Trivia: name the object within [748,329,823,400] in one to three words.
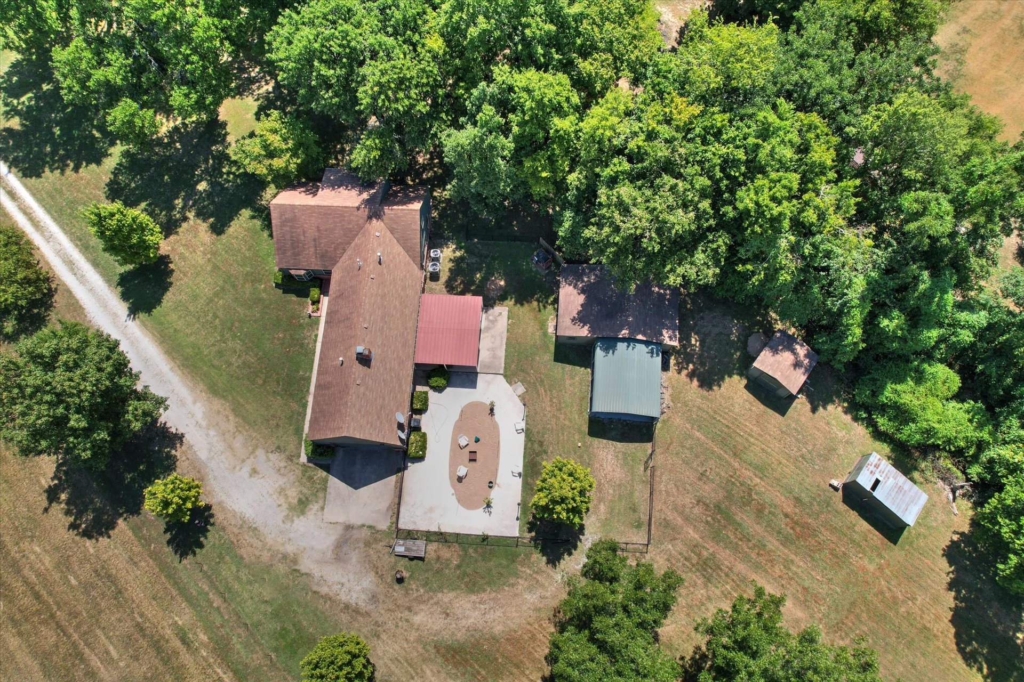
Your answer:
shed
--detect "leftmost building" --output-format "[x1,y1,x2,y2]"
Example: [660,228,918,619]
[270,167,430,449]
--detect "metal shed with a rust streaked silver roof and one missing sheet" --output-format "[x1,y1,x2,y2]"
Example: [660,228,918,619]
[843,453,935,528]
